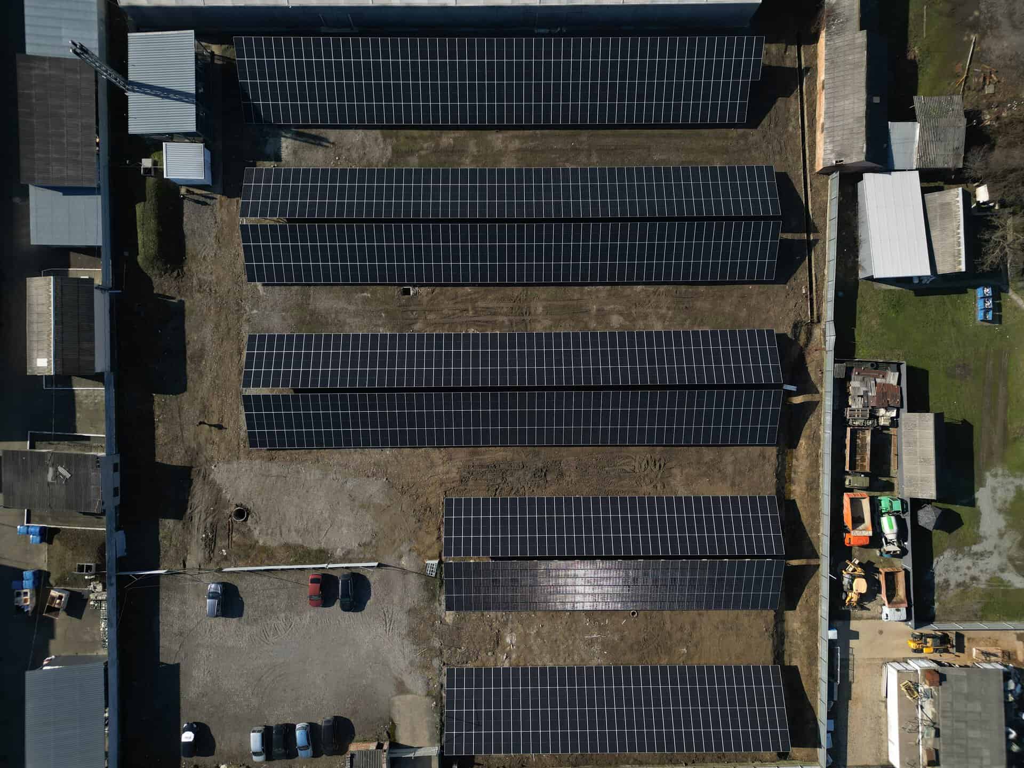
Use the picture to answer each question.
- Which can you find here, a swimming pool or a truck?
truck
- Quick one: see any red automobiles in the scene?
Yes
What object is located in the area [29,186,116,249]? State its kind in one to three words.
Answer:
shed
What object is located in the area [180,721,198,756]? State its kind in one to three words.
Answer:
car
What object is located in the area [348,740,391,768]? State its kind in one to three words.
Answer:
shed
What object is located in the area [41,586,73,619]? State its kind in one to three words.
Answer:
trailer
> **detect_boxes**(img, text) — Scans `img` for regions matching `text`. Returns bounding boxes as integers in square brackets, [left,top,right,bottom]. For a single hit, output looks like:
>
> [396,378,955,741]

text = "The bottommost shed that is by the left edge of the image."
[25,652,118,768]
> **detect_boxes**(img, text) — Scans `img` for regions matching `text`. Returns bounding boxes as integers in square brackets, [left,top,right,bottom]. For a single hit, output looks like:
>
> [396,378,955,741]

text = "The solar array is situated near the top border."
[234,36,764,123]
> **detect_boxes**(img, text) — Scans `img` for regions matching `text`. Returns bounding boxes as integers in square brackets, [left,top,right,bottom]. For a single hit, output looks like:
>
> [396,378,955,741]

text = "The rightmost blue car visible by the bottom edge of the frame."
[295,721,313,756]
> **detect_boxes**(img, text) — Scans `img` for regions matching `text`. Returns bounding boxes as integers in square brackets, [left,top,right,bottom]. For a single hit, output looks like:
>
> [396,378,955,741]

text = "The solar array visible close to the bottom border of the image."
[444,665,790,754]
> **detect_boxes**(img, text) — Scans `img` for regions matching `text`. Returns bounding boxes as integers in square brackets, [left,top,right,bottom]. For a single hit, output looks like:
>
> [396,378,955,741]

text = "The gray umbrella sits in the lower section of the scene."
[914,501,944,529]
